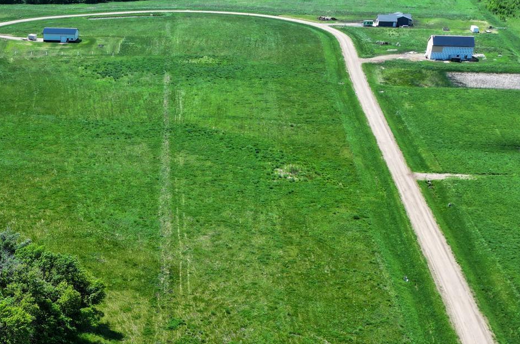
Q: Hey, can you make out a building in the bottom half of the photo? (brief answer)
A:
No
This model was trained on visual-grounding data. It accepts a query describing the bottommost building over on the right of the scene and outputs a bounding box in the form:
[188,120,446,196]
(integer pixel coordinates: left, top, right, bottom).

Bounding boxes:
[423,34,476,60]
